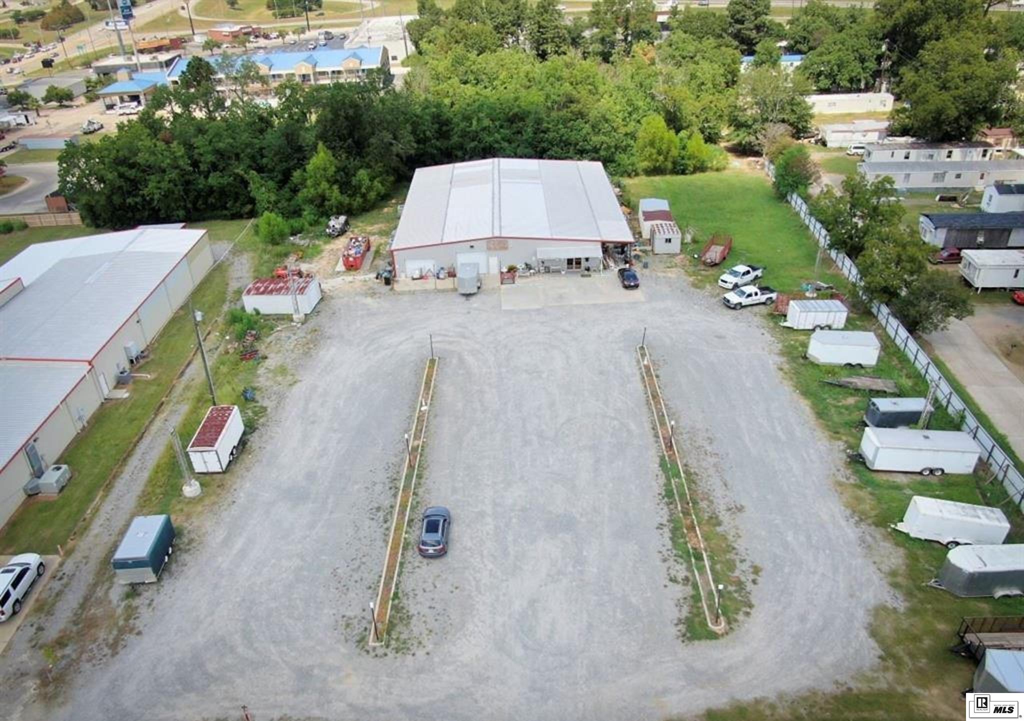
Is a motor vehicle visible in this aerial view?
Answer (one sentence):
Yes, a motor vehicle is visible in the scene.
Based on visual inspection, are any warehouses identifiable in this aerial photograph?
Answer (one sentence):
Yes, there is a warehouse in the image.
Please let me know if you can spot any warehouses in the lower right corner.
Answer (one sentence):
No, in the lower right corner there is no warehouse.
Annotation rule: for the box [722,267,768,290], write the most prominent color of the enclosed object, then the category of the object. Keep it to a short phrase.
white truck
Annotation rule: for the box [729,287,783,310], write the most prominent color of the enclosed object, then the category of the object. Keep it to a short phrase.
white truck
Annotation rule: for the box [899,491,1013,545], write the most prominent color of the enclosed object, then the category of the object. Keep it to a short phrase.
white trailer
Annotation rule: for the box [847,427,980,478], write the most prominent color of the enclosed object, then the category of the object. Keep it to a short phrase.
white trailer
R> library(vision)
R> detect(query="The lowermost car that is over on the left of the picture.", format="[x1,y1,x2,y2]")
[0,549,46,615]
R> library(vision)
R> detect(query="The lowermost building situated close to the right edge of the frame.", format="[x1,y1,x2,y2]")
[965,254,1024,290]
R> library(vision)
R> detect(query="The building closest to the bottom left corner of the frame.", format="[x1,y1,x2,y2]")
[0,224,218,531]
